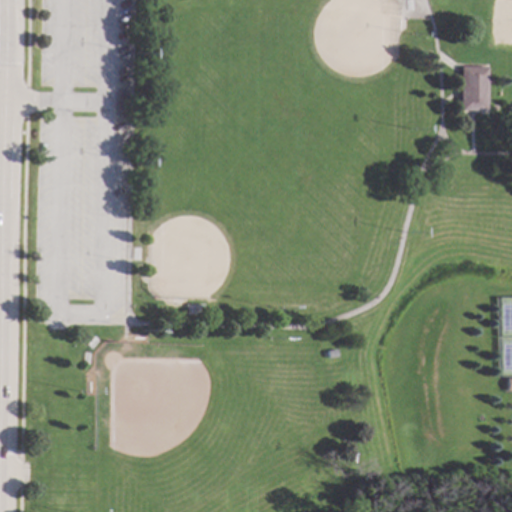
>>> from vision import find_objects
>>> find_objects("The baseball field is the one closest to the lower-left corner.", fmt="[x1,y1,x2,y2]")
[104,352,211,457]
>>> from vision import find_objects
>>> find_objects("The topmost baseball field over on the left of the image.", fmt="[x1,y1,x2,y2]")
[149,214,230,306]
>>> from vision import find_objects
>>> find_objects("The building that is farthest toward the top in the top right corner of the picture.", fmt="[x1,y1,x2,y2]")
[462,64,491,112]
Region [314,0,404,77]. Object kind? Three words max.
baseball field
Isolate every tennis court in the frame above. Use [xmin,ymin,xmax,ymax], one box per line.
[502,338,512,376]
[502,298,512,336]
